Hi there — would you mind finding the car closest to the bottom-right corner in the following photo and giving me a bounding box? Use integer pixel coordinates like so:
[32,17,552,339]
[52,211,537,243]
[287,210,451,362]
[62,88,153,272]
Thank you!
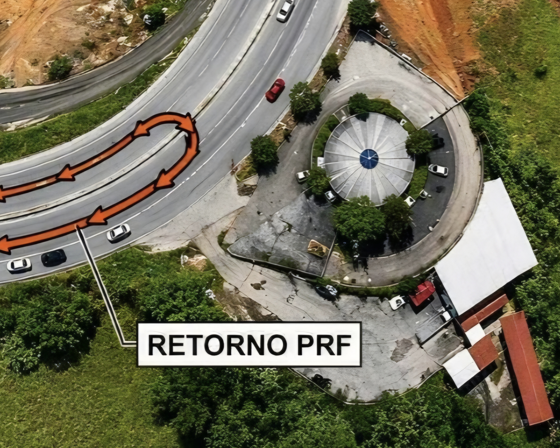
[436,304,454,324]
